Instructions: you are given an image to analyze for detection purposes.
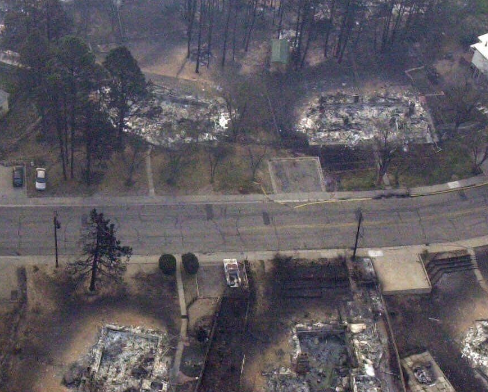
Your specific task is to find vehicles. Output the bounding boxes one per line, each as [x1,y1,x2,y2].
[35,168,46,188]
[226,259,240,284]
[13,161,24,186]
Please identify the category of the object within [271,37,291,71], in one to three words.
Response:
shed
